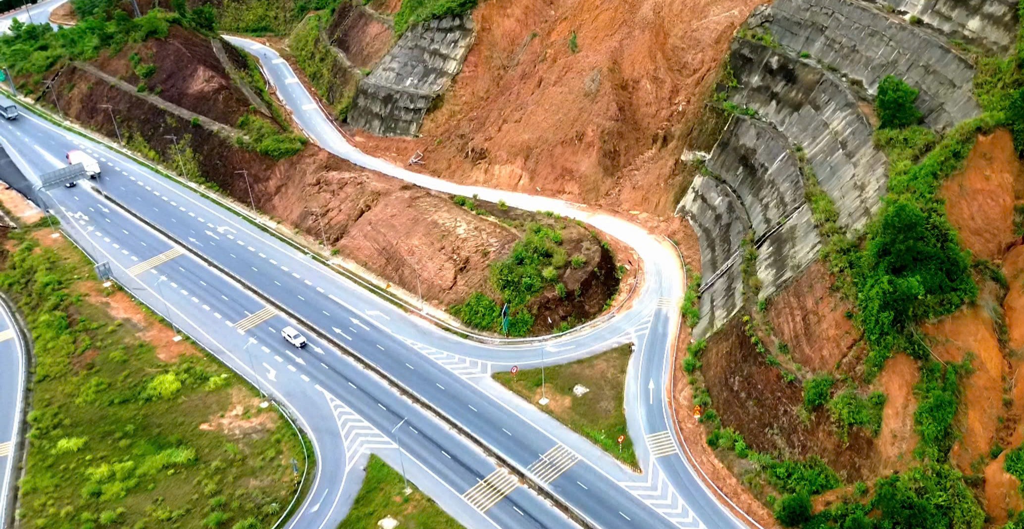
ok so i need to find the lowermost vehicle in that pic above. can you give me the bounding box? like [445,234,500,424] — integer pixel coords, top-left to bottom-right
[283,325,312,348]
